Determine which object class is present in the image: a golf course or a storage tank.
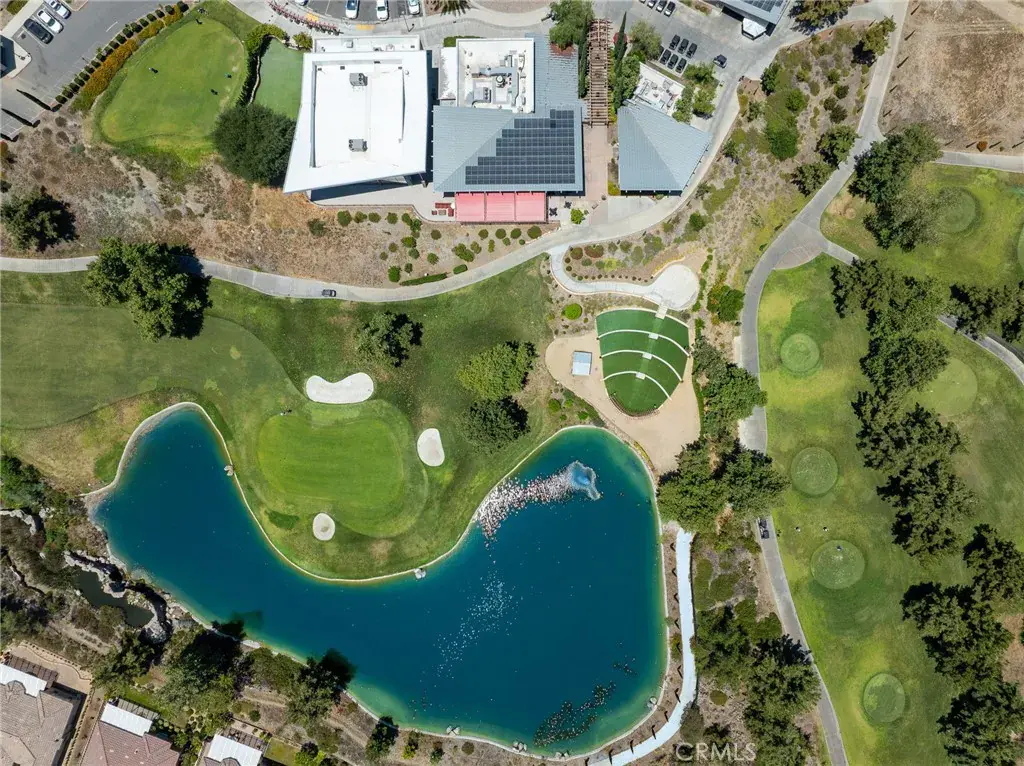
golf course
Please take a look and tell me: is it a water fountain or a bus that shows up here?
water fountain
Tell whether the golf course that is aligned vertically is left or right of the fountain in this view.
right of it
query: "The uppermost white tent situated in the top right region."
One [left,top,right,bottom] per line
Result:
[732,18,766,54]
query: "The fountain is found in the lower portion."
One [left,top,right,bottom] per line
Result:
[561,456,601,502]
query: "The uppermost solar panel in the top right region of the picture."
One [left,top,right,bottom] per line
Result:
[738,0,779,22]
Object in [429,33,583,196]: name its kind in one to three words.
building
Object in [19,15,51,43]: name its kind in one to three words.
car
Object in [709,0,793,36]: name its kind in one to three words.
building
